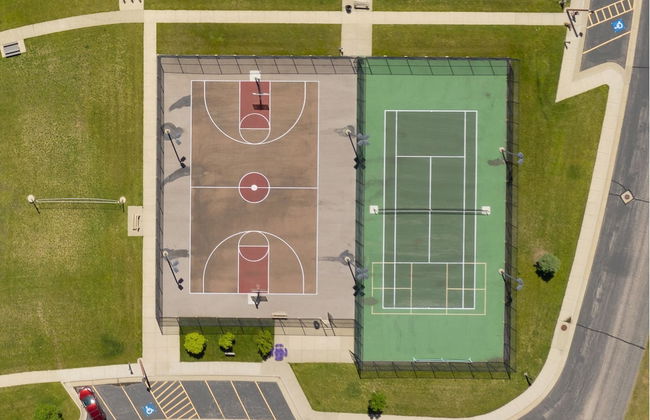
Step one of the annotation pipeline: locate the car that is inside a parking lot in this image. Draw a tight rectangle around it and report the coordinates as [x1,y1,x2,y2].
[79,385,107,420]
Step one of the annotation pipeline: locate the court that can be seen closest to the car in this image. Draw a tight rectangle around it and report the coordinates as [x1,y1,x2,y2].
[156,58,357,319]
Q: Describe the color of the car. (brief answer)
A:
red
